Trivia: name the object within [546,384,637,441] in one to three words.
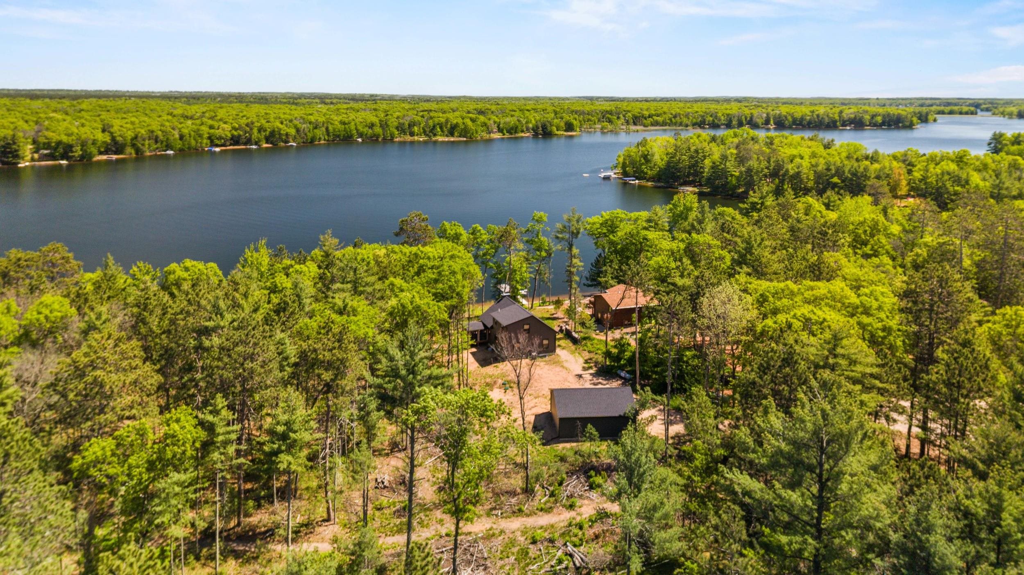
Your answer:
building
